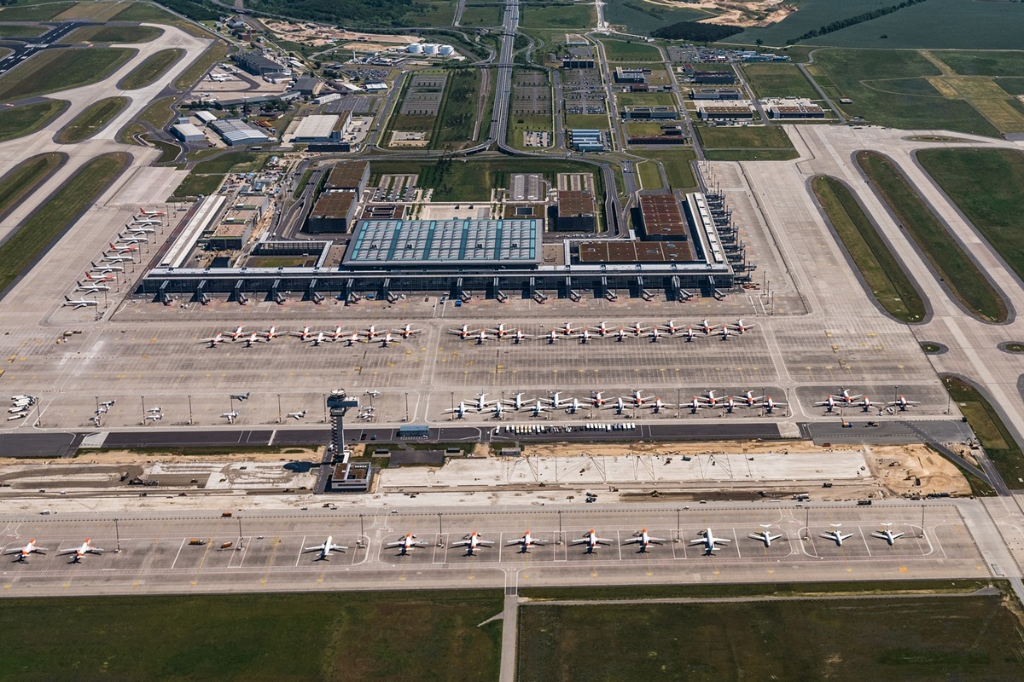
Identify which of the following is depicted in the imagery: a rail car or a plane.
plane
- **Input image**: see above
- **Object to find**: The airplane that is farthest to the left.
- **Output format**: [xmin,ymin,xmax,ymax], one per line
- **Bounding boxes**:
[4,535,47,554]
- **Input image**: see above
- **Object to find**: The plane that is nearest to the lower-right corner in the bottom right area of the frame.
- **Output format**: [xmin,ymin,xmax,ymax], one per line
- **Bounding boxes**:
[874,518,904,539]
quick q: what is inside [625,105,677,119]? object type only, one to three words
building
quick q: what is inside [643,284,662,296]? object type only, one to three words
jet bridge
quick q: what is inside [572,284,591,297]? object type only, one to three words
jet bridge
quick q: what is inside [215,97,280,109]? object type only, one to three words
hangar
